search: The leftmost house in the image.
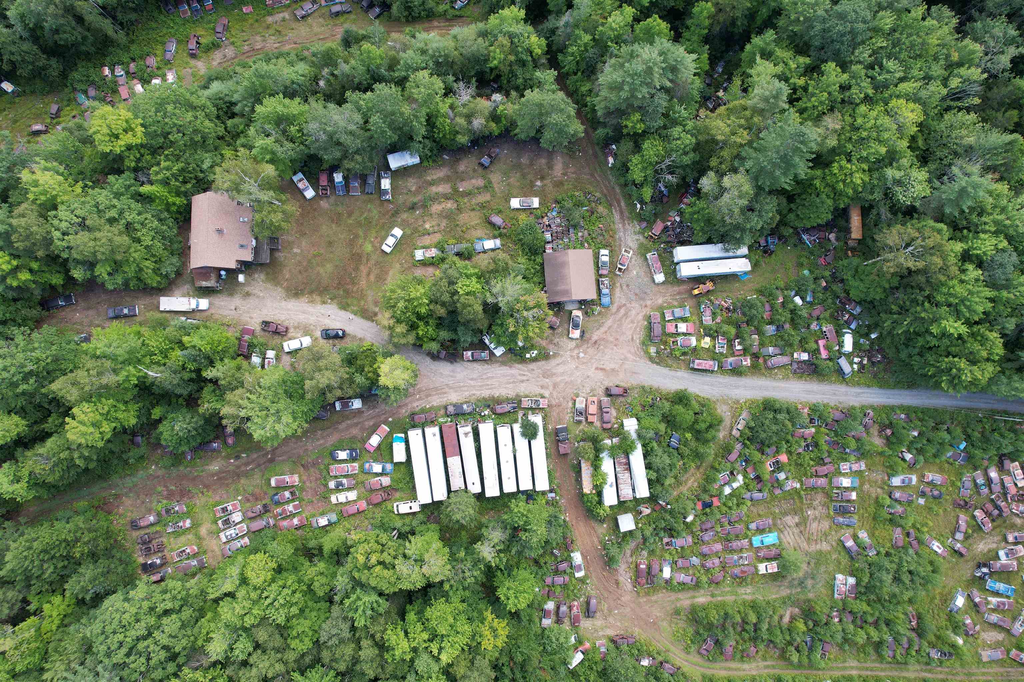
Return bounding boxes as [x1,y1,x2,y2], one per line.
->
[190,192,280,293]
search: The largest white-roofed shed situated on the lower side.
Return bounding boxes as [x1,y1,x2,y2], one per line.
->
[615,510,637,532]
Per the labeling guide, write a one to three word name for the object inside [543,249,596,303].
building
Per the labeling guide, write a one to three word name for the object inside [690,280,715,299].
work vehicle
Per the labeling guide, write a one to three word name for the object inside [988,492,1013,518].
car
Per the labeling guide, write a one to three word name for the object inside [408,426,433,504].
trailer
